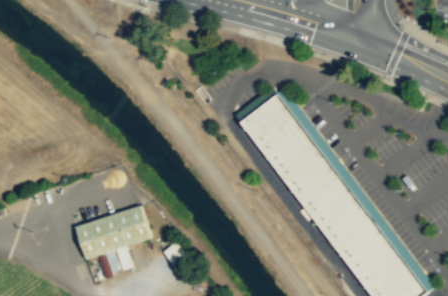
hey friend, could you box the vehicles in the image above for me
[313,114,324,124]
[350,159,360,168]
[328,134,340,144]
[288,16,298,22]
[331,140,341,148]
[317,120,327,129]
[34,194,42,206]
[80,208,87,219]
[324,22,335,28]
[345,52,358,59]
[298,35,308,40]
[404,176,417,191]
[45,191,53,204]
[106,200,114,213]
[94,206,101,216]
